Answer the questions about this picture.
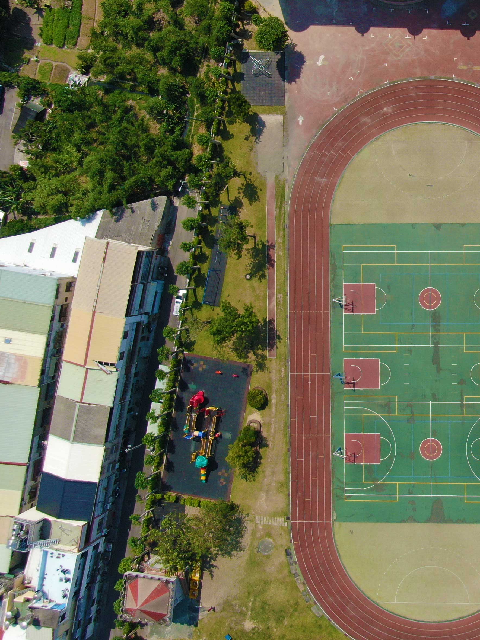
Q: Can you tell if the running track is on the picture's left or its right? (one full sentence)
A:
The running track appears in the right half of the scene.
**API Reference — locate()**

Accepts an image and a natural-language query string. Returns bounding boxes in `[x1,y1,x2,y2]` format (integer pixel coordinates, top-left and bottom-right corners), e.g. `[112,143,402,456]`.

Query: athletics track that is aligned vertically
[289,81,480,640]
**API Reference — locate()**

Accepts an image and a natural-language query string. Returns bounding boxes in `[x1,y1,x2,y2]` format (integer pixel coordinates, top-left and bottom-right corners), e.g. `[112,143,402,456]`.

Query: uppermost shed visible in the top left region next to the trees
[13,102,50,139]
